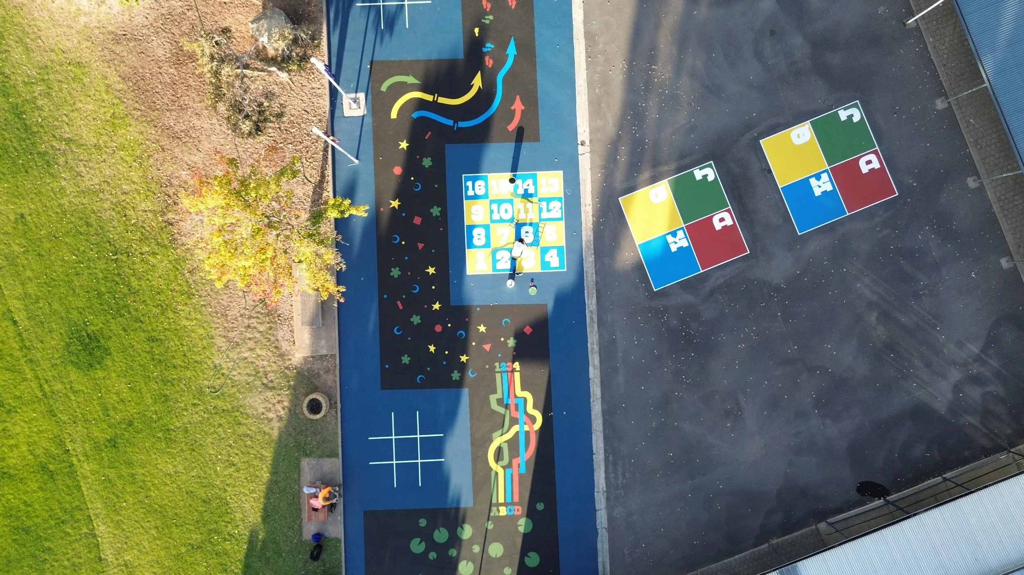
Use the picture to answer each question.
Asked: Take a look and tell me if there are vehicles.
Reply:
No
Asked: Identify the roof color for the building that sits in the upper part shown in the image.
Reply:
blue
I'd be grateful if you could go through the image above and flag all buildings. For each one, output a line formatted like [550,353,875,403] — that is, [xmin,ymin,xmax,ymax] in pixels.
[753,468,1024,575]
[952,0,1024,174]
